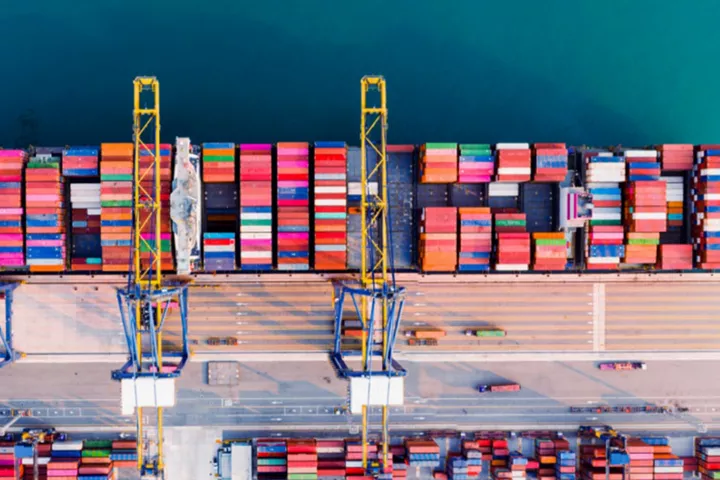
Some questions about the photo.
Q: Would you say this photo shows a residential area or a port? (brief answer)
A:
port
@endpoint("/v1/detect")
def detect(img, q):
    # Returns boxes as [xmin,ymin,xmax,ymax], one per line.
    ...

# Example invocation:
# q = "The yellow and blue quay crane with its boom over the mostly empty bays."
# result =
[332,74,409,478]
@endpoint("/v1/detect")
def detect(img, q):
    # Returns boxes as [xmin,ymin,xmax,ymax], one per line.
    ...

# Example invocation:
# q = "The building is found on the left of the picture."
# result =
[220,439,252,480]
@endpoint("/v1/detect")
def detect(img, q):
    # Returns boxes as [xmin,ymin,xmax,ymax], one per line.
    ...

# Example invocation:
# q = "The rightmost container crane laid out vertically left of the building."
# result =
[112,74,195,478]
